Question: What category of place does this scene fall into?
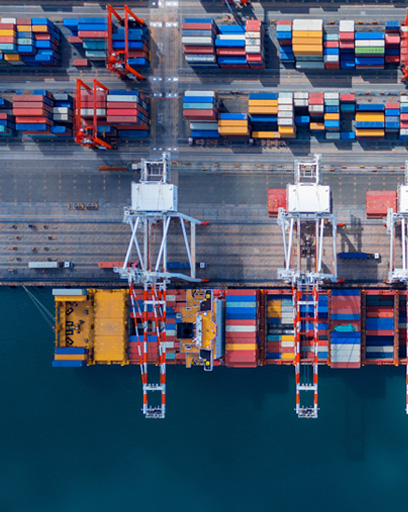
port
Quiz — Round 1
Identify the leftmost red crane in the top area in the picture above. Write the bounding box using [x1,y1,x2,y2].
[74,78,118,152]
